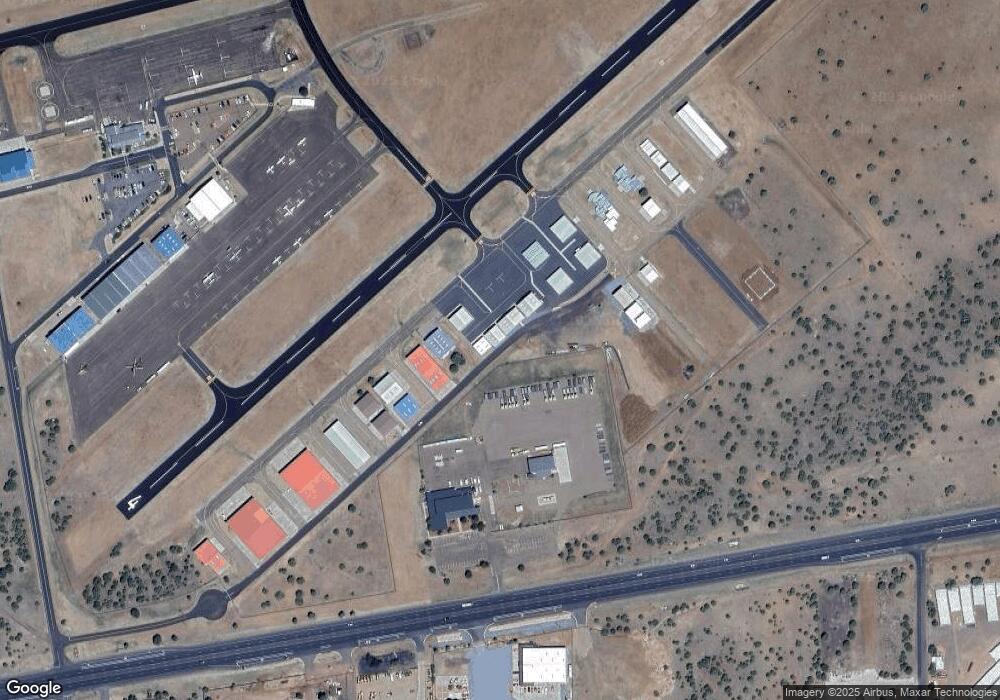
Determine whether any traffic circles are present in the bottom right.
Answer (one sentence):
No, there is no traffic circle in the bottom right.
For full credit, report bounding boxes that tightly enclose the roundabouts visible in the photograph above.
[186,588,231,620]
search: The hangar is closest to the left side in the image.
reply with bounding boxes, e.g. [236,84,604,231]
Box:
[0,148,31,180]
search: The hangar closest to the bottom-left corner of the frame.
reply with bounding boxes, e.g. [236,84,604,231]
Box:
[193,540,225,570]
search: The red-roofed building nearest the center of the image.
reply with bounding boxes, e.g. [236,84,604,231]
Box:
[406,345,449,391]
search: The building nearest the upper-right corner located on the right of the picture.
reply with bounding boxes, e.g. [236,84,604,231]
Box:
[677,103,729,157]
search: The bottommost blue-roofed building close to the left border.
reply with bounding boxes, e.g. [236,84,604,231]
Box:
[47,308,96,353]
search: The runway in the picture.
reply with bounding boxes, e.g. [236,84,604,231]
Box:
[117,0,698,519]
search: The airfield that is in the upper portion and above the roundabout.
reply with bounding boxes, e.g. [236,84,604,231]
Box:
[0,0,772,520]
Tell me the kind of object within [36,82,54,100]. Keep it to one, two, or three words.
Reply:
helipad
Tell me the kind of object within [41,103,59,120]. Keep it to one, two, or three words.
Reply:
helipad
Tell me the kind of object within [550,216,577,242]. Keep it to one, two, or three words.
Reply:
hangar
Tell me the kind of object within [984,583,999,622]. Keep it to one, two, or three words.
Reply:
shed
